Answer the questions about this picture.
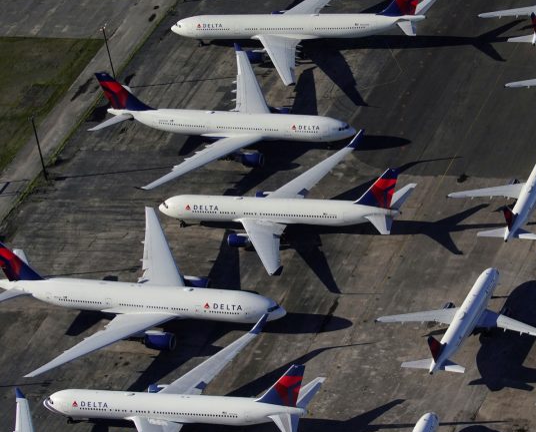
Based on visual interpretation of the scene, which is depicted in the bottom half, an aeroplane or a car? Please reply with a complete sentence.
Visible in the bottom half is an aeroplane.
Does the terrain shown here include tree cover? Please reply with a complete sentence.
No, the picture contains no tree cover.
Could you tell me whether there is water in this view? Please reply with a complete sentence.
No, water can't be seen anywhere here.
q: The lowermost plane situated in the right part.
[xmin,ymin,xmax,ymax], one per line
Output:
[408,414,434,432]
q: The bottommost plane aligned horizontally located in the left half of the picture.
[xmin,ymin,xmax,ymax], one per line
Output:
[43,313,326,432]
